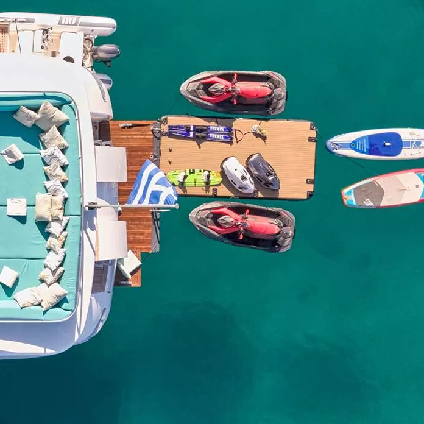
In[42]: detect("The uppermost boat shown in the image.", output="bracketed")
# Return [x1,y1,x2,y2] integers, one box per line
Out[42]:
[0,11,121,89]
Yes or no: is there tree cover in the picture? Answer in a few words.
No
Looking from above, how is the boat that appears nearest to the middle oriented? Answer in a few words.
horizontally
